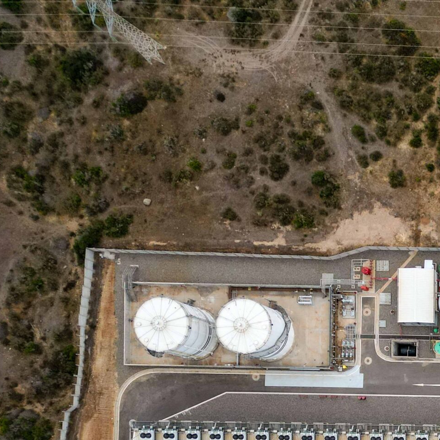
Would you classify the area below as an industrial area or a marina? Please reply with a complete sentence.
This looks like an industrial area.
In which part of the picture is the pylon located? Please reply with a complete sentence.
Look in the top left portion of the view to spot the pylon.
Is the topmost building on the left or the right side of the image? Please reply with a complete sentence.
The topmost building is on the right side of the image.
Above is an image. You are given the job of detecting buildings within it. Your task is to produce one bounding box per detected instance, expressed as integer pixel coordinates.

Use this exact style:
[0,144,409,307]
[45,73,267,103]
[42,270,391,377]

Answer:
[399,267,437,326]
[129,419,440,440]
